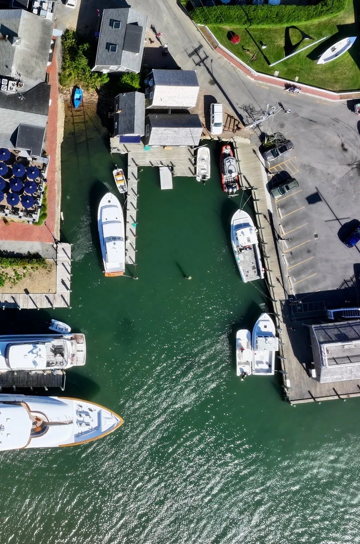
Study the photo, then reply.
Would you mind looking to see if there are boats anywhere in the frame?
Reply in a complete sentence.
Yes, the picture does show a boat.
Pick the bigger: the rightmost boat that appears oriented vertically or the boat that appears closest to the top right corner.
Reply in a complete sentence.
The rightmost boat that appears oriented vertically is bigger than the boat that appears closest to the top right corner.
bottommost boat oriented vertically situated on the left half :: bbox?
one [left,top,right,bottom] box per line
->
[96,192,126,278]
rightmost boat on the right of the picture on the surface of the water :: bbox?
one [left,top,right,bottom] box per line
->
[252,313,277,375]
